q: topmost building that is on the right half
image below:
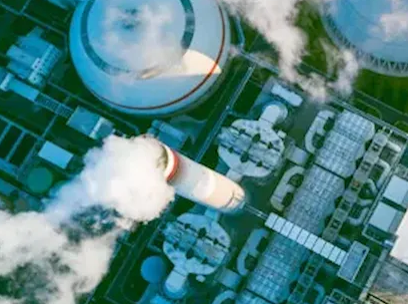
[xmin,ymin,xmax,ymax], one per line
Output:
[270,84,302,106]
